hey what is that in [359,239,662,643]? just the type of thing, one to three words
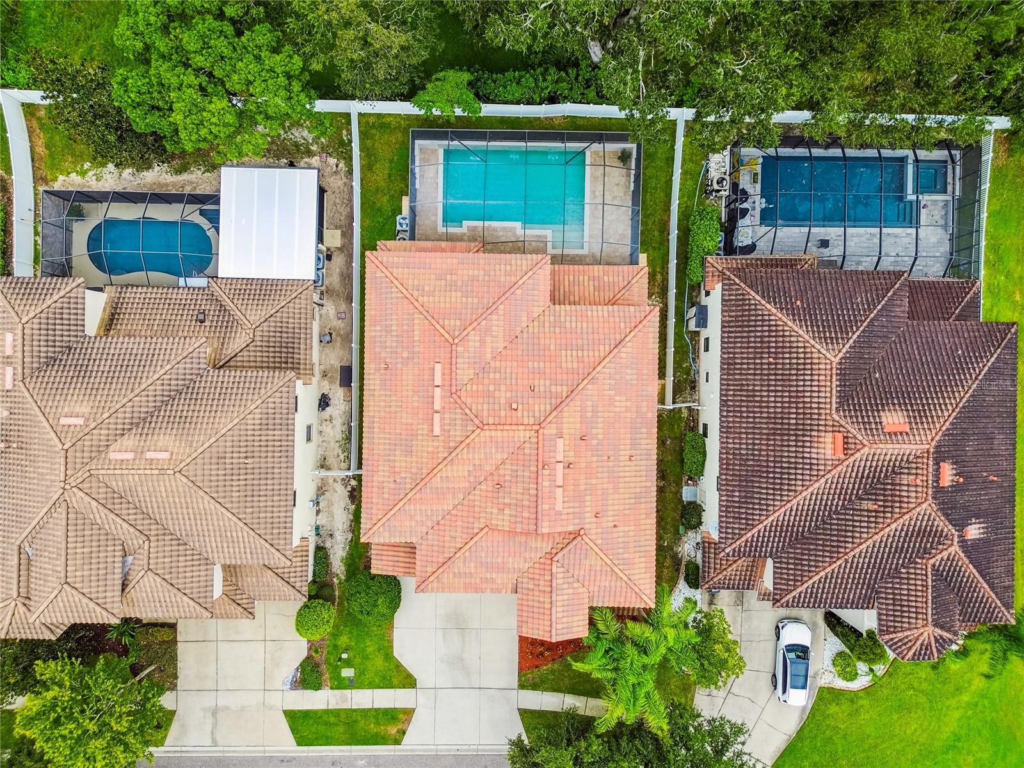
house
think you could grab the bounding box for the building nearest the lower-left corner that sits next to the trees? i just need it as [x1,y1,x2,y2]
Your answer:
[0,275,320,641]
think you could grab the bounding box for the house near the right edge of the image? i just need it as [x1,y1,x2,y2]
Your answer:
[696,255,1020,663]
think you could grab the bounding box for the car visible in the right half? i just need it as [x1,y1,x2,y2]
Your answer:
[769,614,820,703]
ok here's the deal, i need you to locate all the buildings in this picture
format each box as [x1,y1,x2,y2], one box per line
[696,255,1020,663]
[0,275,320,641]
[359,239,662,643]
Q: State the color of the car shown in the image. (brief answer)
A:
white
